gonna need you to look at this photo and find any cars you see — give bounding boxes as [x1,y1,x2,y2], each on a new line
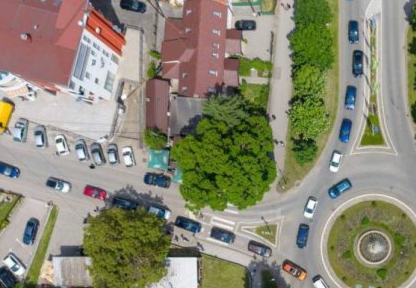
[282,260,307,278]
[173,216,200,232]
[347,21,358,44]
[122,146,136,166]
[75,139,90,162]
[112,196,139,210]
[55,134,70,157]
[83,186,108,199]
[352,50,363,76]
[329,180,352,197]
[2,253,26,272]
[338,120,351,143]
[90,143,106,166]
[147,204,171,219]
[211,228,235,242]
[304,195,317,218]
[145,173,170,187]
[329,150,342,173]
[246,240,273,256]
[234,18,259,31]
[0,163,20,177]
[105,143,120,166]
[0,263,15,277]
[46,178,71,192]
[344,84,357,110]
[23,218,40,243]
[297,222,309,248]
[12,119,28,143]
[313,275,329,288]
[33,126,49,149]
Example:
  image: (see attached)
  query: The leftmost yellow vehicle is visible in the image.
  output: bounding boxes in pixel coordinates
[0,98,15,135]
